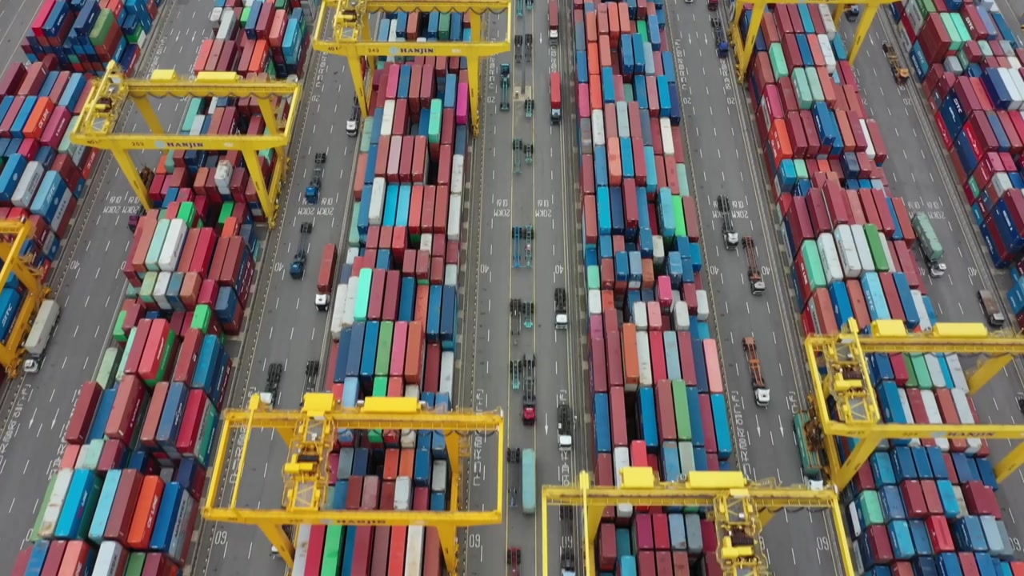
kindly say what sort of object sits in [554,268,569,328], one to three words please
vehicle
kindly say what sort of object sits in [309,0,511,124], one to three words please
container crane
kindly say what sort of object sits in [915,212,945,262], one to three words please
shipping container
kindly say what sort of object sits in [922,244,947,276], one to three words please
truck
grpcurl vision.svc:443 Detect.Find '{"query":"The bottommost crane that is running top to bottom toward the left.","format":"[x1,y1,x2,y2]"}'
[0,222,49,375]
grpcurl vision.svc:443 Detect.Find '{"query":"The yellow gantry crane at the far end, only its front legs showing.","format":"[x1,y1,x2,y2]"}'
[727,0,911,73]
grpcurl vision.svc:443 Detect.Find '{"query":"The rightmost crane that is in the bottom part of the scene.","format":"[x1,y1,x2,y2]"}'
[806,317,1024,486]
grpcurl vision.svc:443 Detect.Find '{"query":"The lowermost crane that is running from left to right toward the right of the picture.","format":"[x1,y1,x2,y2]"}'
[543,463,858,576]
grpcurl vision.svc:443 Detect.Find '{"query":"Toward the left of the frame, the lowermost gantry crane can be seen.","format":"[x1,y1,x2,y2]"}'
[200,391,504,576]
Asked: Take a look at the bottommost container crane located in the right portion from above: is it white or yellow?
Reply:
yellow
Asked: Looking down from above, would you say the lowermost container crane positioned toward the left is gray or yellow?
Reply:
yellow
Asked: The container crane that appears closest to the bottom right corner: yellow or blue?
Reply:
yellow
